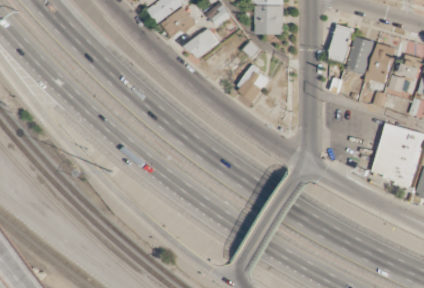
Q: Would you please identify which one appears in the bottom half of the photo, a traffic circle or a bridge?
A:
bridge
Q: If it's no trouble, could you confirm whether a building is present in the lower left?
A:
No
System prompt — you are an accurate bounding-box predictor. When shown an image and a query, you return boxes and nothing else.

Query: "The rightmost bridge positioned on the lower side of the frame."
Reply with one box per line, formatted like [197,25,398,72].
[226,166,310,282]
